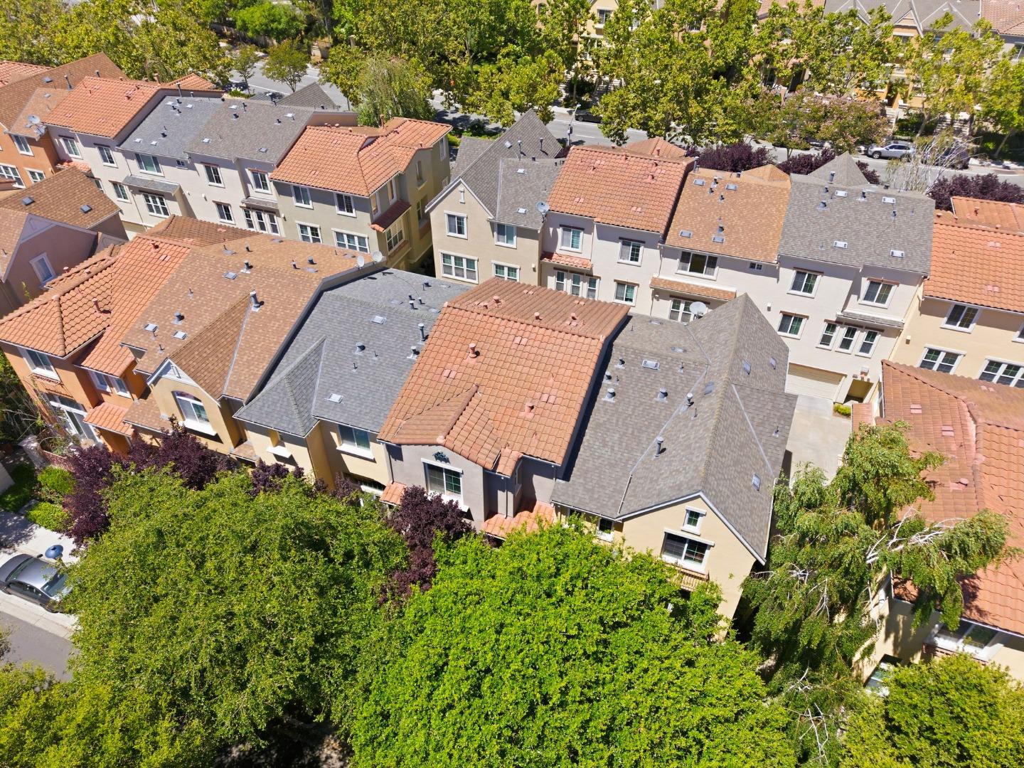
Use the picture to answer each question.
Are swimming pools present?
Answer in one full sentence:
No, there's no swimming pool here.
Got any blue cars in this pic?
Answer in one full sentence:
No, the scene contains no blue car.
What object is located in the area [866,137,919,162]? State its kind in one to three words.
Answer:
car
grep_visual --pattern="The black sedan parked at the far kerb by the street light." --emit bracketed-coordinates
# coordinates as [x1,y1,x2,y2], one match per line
[575,105,606,122]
